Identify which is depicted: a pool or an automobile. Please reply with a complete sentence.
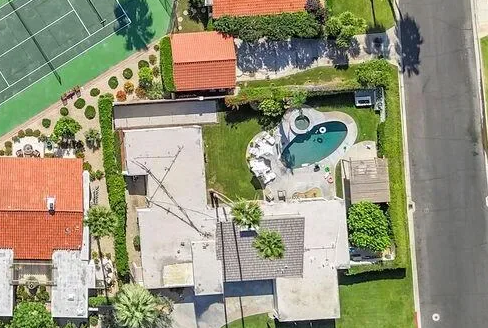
It is a pool that can be seen here.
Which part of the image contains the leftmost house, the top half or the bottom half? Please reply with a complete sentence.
The leftmost house sits in the bottom half of the picture.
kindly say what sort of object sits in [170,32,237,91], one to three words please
building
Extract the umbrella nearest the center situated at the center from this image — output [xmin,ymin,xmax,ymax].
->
[250,158,265,173]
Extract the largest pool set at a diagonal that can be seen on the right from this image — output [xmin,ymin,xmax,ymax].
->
[280,119,350,172]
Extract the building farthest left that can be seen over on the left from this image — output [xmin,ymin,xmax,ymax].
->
[0,157,98,319]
